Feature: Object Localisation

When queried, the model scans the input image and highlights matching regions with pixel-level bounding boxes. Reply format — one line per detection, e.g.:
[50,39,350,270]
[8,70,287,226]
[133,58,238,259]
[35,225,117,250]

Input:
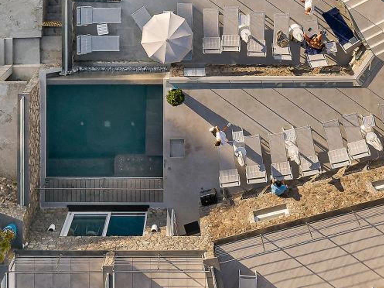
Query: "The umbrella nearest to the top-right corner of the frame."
[290,23,302,40]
